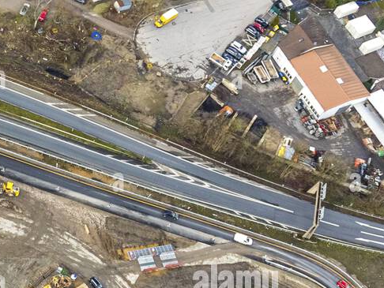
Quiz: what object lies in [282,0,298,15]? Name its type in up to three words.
camper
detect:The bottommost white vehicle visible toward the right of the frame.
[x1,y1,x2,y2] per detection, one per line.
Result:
[234,228,256,245]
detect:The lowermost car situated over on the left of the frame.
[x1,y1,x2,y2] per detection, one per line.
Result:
[90,274,106,288]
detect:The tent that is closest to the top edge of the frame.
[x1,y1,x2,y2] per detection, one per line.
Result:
[330,1,359,24]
